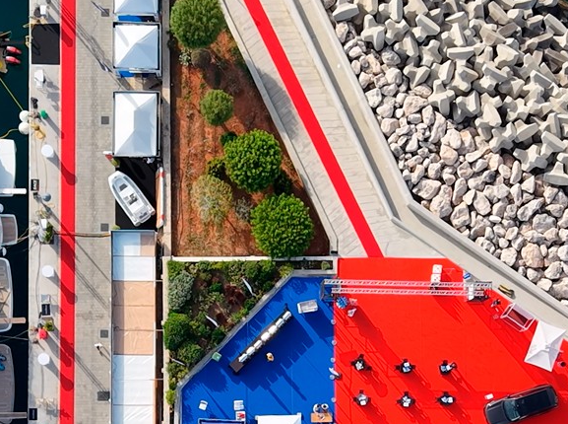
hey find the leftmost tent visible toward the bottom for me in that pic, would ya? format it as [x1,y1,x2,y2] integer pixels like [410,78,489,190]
[112,230,165,424]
